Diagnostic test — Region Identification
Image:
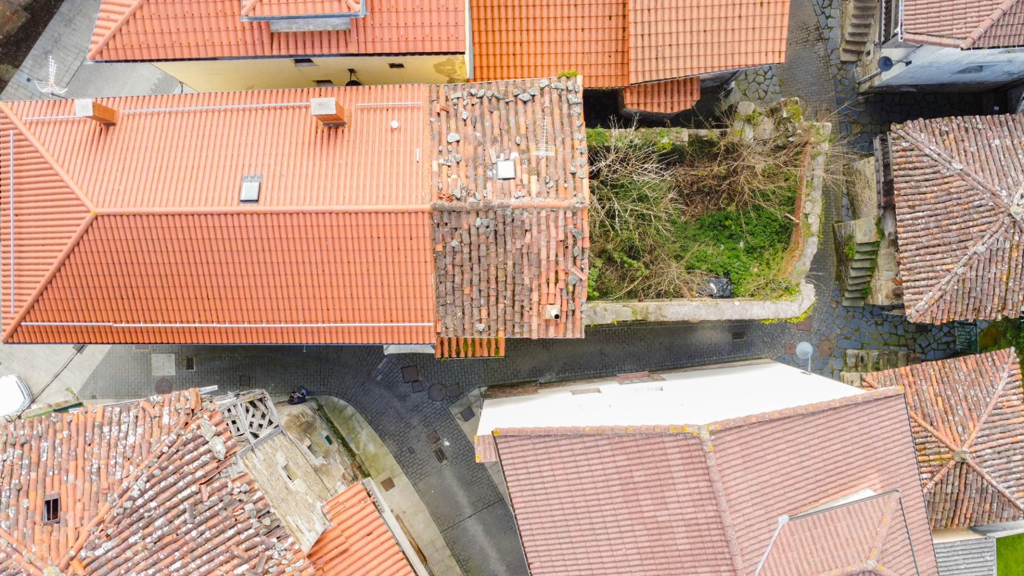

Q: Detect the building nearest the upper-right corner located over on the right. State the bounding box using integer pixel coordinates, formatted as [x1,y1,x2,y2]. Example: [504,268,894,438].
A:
[851,0,1024,90]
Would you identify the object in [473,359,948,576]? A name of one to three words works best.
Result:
house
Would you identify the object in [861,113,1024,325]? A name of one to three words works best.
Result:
house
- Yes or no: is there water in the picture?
No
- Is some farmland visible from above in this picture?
No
